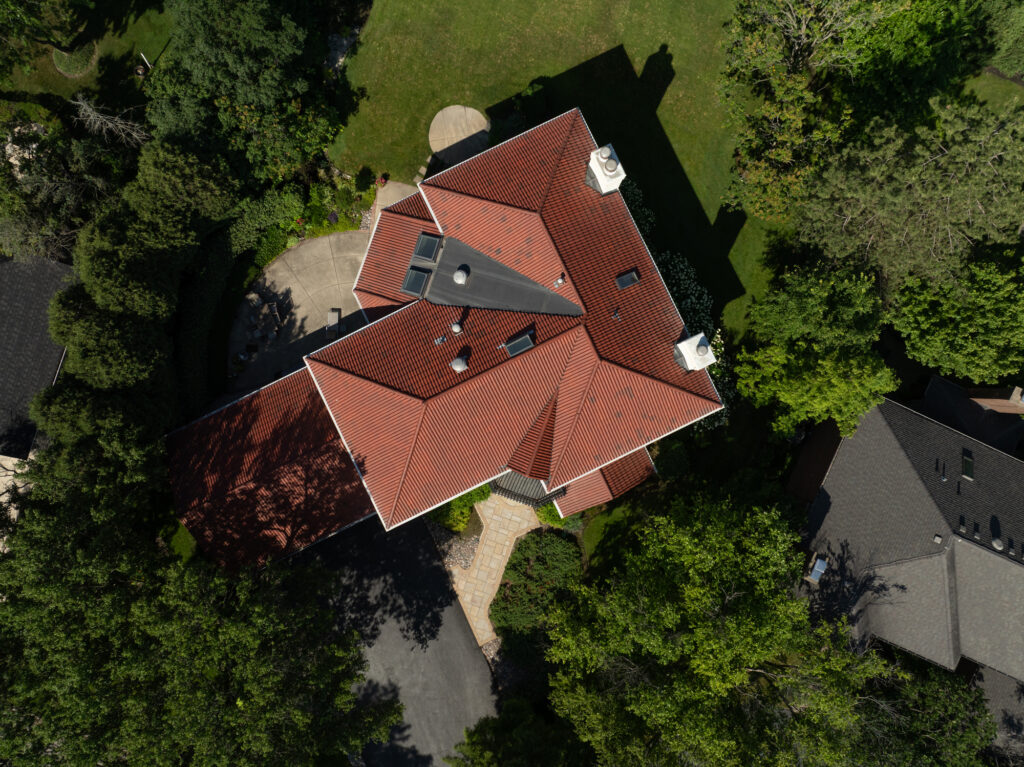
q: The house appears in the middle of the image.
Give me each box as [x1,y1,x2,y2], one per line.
[150,107,726,591]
